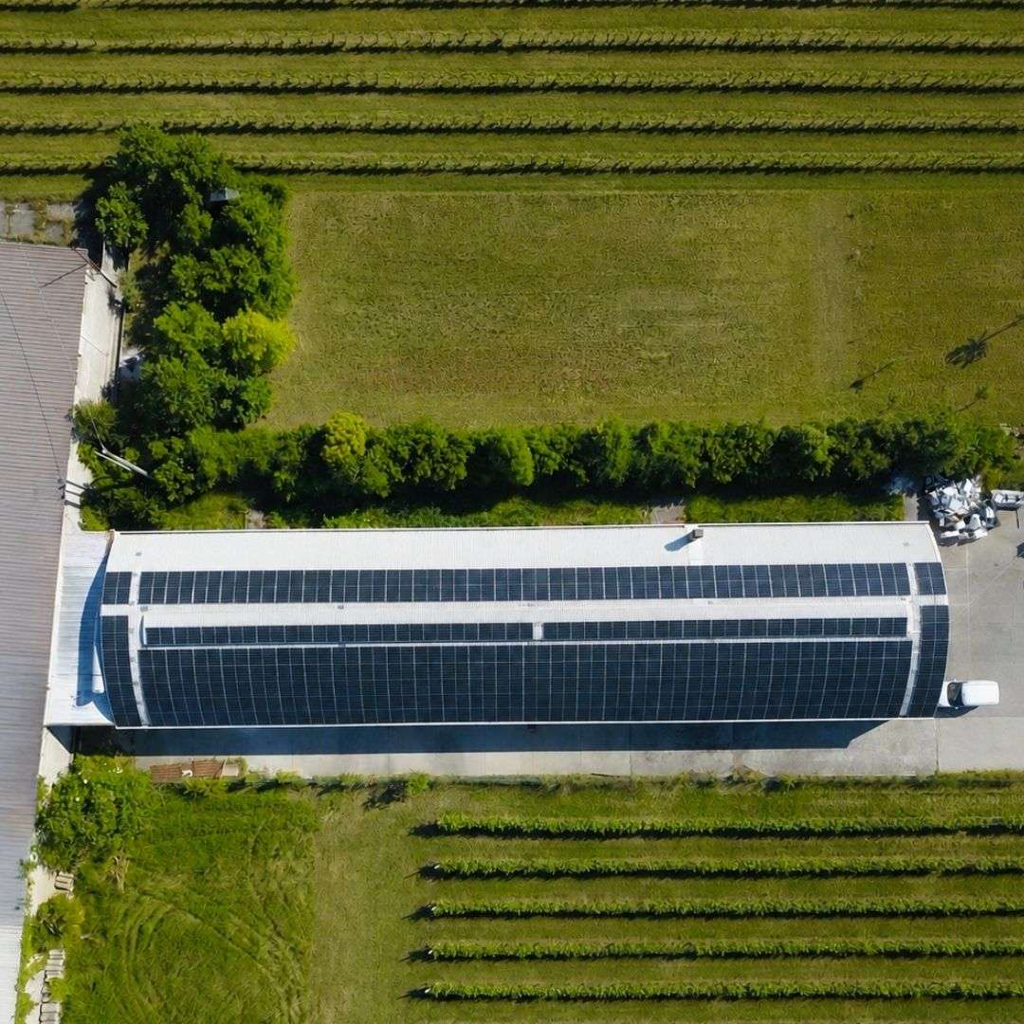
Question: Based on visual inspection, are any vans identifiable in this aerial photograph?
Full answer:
Yes, the photo shows a van.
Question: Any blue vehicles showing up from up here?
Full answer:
No, no blue vehicle is visible in the view.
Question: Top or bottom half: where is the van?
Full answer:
You can find the van in the bottom half.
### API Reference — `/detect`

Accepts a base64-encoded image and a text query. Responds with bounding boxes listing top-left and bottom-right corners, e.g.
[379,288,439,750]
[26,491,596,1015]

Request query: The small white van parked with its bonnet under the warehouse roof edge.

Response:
[938,675,997,711]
